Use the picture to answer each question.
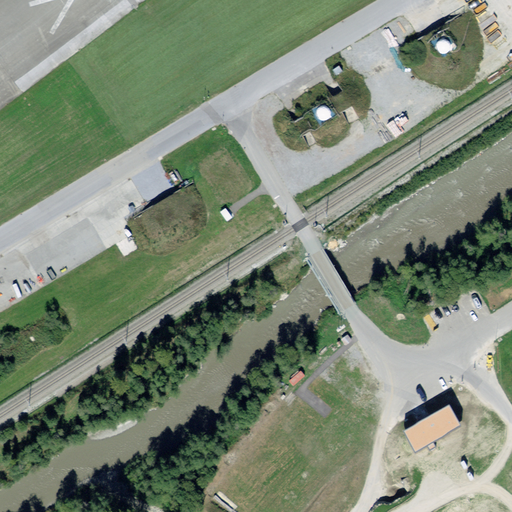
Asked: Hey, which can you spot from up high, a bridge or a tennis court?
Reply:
bridge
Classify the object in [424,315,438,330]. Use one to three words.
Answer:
vehicle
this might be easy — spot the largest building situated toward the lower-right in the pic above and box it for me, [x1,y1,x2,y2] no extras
[405,406,461,451]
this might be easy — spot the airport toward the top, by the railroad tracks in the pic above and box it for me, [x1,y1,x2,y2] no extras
[0,0,428,312]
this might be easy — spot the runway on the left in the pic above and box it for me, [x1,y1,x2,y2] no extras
[0,0,123,110]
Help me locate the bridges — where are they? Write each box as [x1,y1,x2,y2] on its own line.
[304,248,358,316]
